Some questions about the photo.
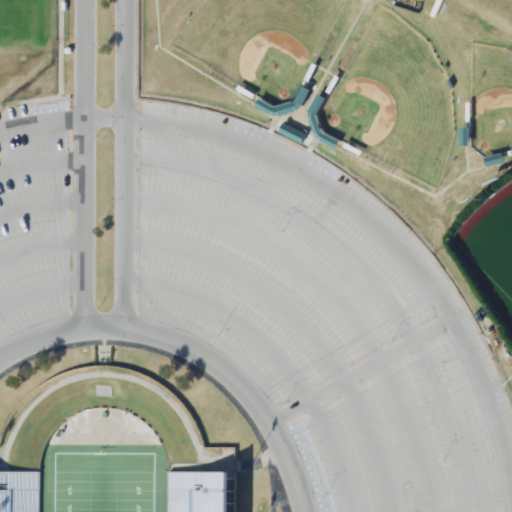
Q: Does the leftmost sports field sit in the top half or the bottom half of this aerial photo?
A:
bottom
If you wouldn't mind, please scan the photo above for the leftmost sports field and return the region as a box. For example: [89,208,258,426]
[43,407,167,512]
